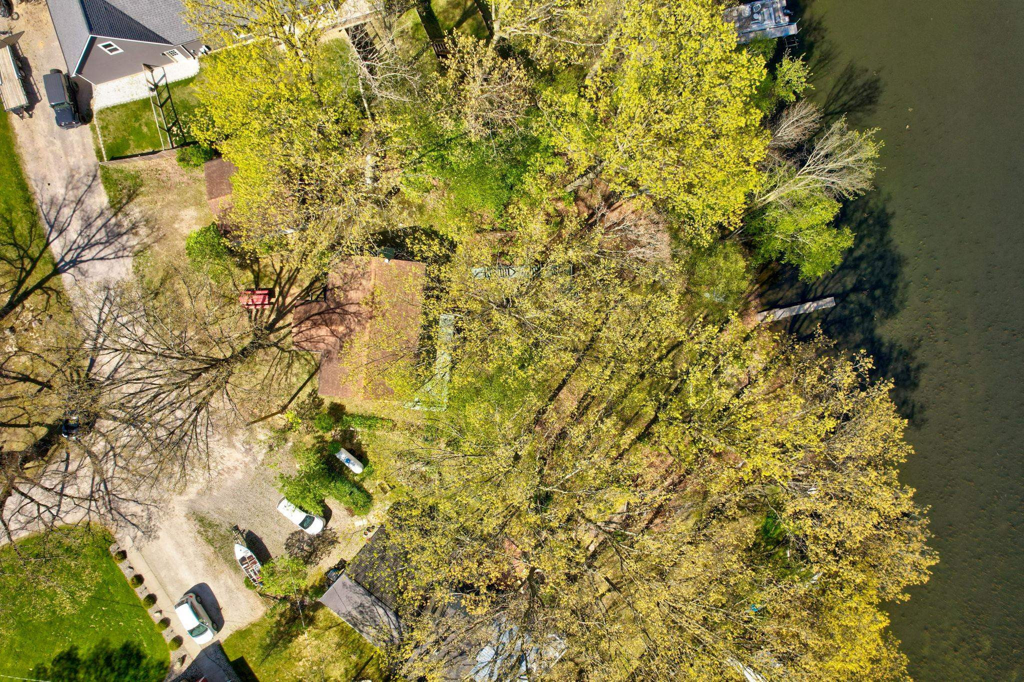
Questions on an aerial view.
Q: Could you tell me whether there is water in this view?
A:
Yes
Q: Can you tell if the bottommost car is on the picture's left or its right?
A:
left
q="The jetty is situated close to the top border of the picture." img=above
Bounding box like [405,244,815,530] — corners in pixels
[736,17,802,46]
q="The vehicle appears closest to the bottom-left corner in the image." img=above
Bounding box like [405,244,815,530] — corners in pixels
[171,590,216,645]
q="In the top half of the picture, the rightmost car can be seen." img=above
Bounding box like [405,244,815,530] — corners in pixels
[41,66,82,125]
